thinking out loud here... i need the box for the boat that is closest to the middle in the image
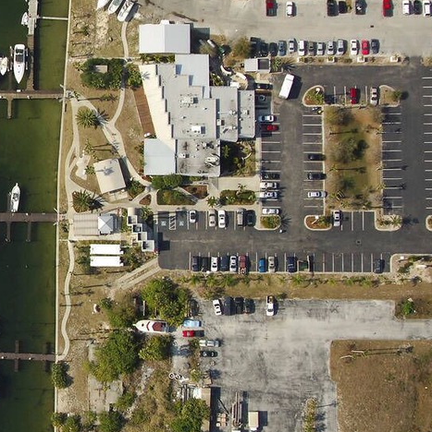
[133,320,170,334]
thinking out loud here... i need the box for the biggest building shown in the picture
[132,54,255,178]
